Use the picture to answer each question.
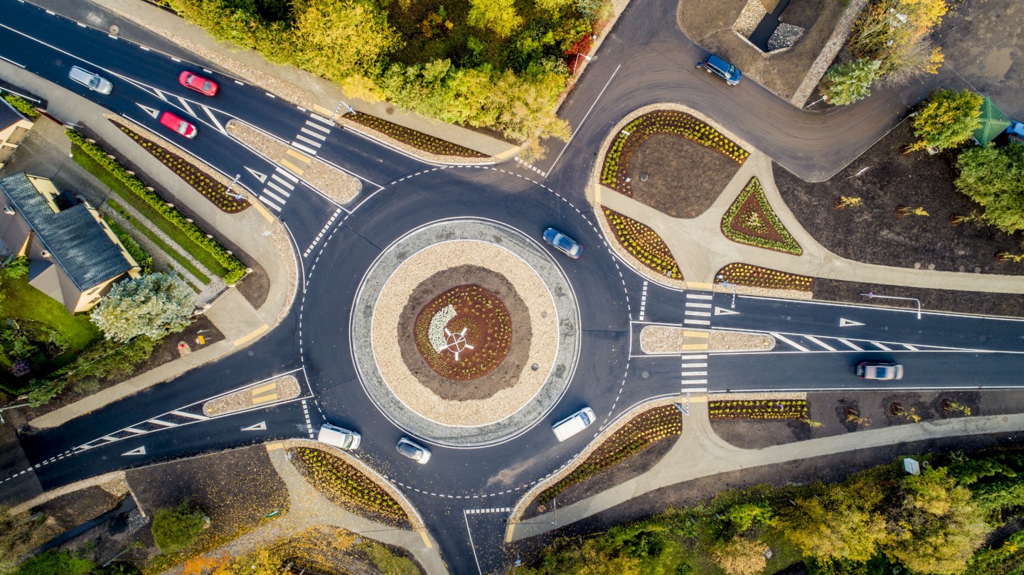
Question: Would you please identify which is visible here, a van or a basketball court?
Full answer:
The image shows a van.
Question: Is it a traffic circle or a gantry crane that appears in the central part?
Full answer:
The feature located in the central part is a traffic circle.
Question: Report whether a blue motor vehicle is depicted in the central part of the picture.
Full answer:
Yes, the scene does show a blue motor vehicle in the central part of the picture.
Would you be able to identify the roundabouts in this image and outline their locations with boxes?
[296,165,635,502]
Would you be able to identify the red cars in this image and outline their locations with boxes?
[180,71,221,97]
[157,111,199,139]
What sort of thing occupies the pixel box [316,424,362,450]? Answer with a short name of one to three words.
vehicle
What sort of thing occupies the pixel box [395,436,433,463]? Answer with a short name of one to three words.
car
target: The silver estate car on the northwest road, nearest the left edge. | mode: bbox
[68,65,114,95]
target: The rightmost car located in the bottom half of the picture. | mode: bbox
[857,362,900,380]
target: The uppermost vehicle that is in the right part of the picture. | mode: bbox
[696,53,742,84]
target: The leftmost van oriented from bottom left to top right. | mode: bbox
[553,407,596,442]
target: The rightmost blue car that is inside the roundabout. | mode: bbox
[542,227,583,259]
